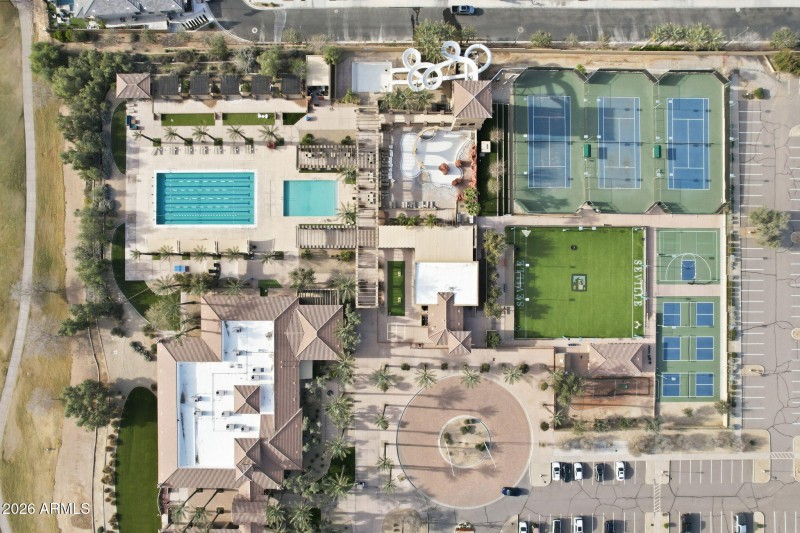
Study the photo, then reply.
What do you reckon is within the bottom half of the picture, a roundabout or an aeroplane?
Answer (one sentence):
What appears within the bottom half of the picture is a roundabout.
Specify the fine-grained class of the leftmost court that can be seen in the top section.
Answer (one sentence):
Looking closely, the leftmost court that can be seen in the top section is a tennis court.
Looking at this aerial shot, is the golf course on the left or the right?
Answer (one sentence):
The golf course sits on the left side.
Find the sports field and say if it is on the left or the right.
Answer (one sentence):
It is on the right.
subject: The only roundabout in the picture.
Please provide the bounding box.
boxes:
[395,373,534,511]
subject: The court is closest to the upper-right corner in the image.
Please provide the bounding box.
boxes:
[665,98,714,190]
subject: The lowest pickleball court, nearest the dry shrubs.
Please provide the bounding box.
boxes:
[662,372,713,399]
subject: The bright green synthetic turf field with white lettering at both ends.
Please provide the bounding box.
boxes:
[514,226,646,339]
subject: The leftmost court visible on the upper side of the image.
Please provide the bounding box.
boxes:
[526,96,575,188]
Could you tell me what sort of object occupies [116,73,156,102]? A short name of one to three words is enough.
building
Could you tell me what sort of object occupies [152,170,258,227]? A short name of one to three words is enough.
swimming pool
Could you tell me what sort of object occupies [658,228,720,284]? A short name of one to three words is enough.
basketball court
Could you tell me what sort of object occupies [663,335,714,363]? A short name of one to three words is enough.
sports court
